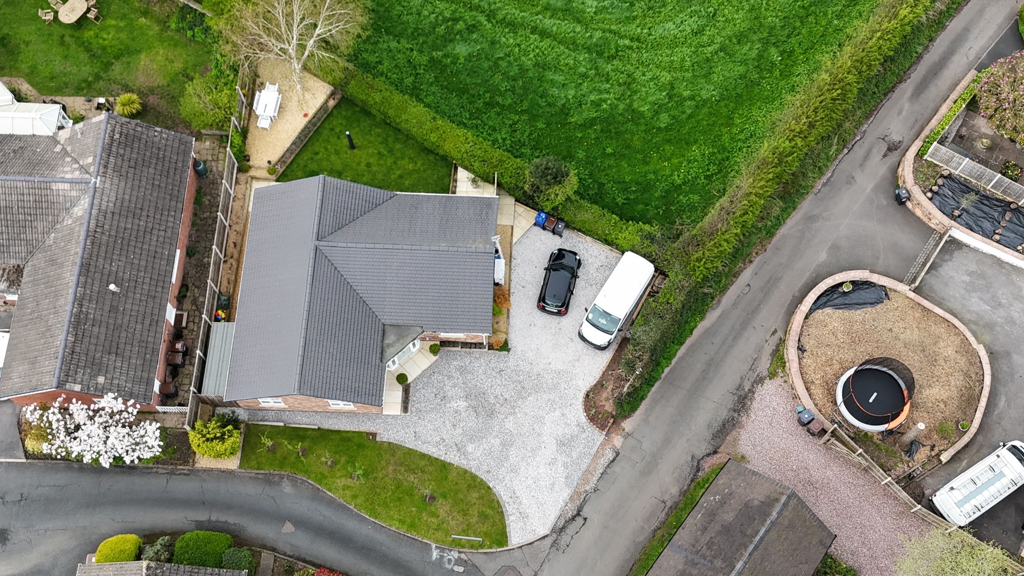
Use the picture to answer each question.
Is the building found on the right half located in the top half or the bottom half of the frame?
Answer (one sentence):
You can find the building found on the right half in the bottom half.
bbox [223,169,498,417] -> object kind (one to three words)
house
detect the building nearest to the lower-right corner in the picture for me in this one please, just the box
[645,457,840,576]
